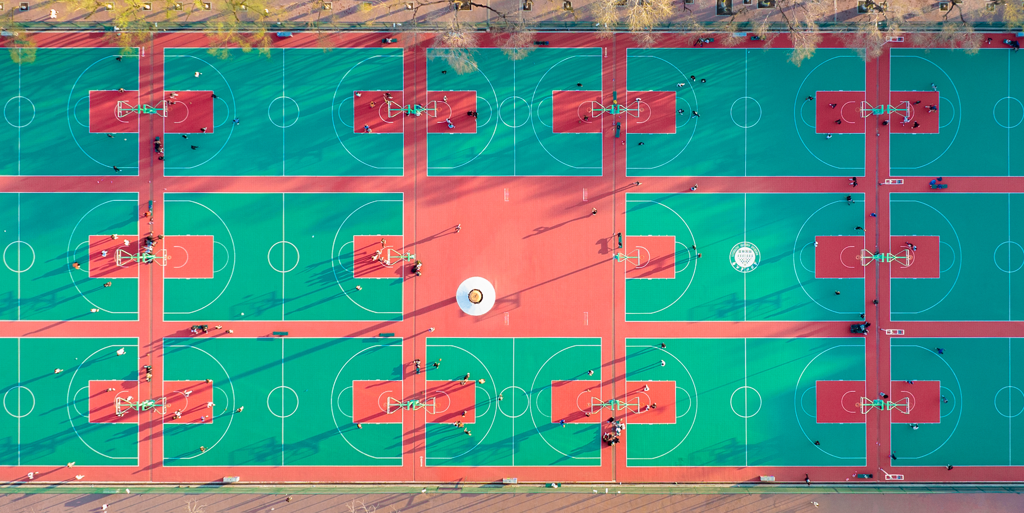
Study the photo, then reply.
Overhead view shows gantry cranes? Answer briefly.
No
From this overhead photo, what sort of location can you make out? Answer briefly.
sports ground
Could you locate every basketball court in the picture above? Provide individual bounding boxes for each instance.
[0,192,139,321]
[890,337,1024,467]
[890,192,1024,321]
[0,337,139,467]
[427,47,602,176]
[163,337,403,467]
[0,47,139,176]
[164,47,404,176]
[426,337,602,467]
[626,337,866,467]
[626,47,866,176]
[626,192,865,321]
[890,47,1024,176]
[163,192,403,321]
